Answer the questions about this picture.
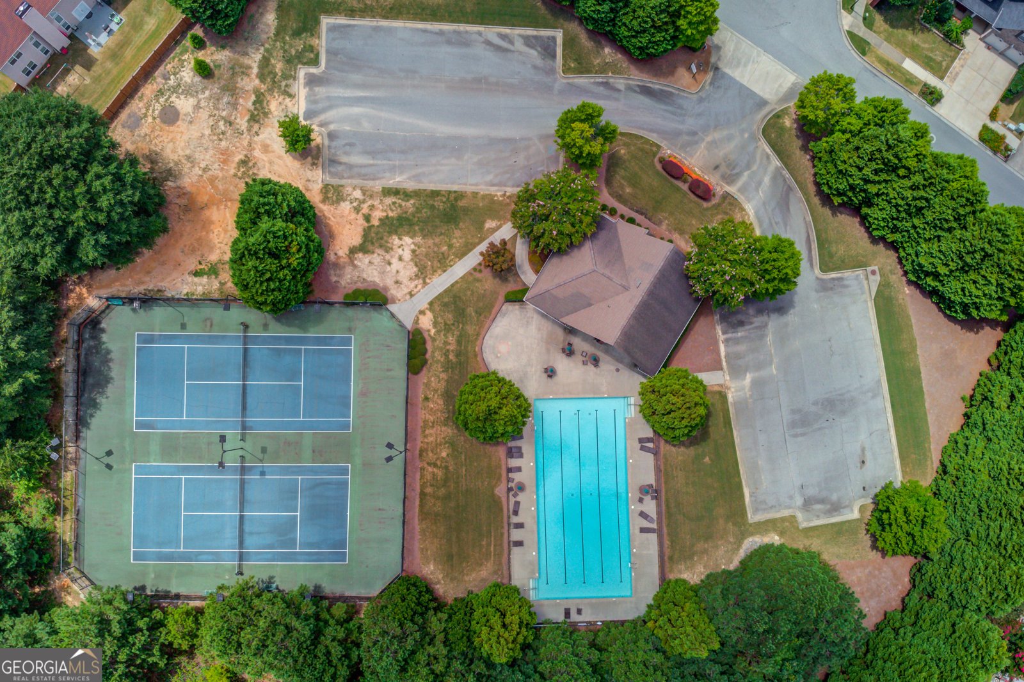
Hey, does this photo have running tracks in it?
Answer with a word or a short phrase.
No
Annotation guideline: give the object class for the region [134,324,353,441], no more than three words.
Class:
tennis court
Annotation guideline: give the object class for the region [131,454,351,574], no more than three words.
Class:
tennis court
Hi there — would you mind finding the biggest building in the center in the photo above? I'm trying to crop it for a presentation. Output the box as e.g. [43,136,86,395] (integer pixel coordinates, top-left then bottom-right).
[524,205,711,378]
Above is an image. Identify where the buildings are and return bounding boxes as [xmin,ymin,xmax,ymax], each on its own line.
[930,0,1024,70]
[0,0,95,86]
[524,205,711,378]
